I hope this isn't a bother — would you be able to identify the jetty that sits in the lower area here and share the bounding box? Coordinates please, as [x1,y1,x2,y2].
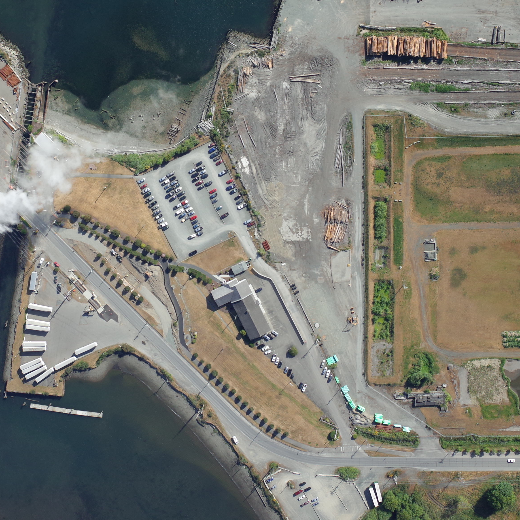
[30,404,102,418]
